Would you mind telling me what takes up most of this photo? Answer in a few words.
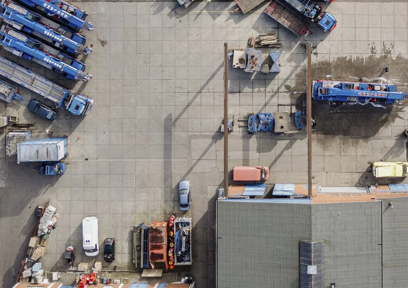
paved ground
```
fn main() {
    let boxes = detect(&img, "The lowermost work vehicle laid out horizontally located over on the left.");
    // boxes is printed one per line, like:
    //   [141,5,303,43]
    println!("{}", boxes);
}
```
[39,162,69,174]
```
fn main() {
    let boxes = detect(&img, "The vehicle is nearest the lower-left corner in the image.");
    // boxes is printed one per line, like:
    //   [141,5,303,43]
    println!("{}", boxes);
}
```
[63,243,76,268]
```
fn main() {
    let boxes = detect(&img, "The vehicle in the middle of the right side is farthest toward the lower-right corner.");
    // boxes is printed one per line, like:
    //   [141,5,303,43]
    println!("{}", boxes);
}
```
[373,162,408,178]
